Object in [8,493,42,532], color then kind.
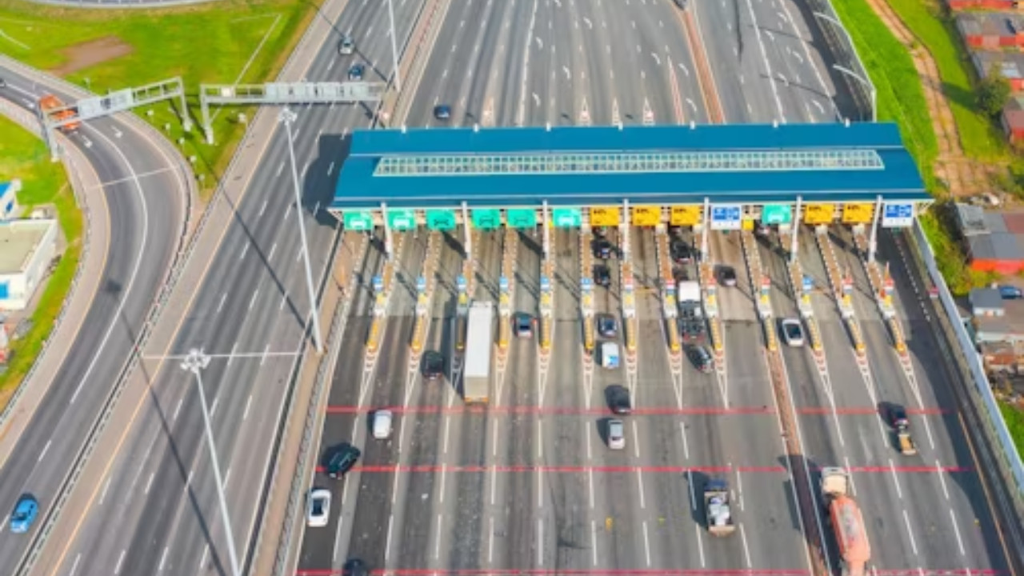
blue car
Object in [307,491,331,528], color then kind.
white car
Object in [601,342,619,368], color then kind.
white vehicle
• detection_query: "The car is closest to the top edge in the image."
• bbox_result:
[338,36,353,53]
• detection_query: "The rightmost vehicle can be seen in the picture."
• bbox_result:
[1001,282,1024,303]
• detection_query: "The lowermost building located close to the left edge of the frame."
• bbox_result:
[0,214,65,307]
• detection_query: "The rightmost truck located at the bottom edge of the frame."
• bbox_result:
[824,455,874,576]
